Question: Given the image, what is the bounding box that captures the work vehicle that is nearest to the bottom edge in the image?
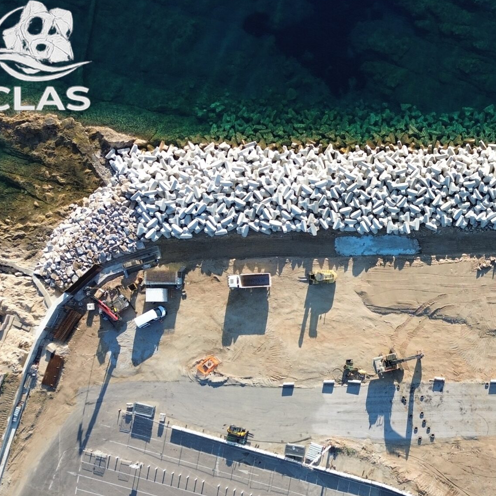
[227,424,258,440]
